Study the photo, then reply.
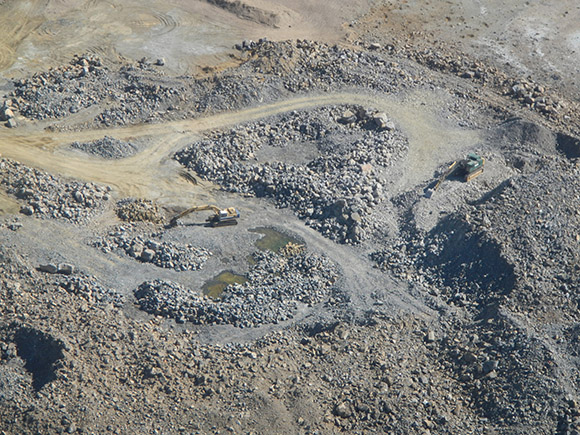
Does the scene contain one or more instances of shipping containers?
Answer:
No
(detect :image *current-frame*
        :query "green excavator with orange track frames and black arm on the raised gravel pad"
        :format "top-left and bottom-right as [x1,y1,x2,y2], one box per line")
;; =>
[427,155,483,194]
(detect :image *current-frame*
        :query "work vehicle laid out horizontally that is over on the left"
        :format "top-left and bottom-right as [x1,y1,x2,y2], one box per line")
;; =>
[171,204,240,228]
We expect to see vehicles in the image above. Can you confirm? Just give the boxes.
[171,204,240,228]
[427,155,483,194]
